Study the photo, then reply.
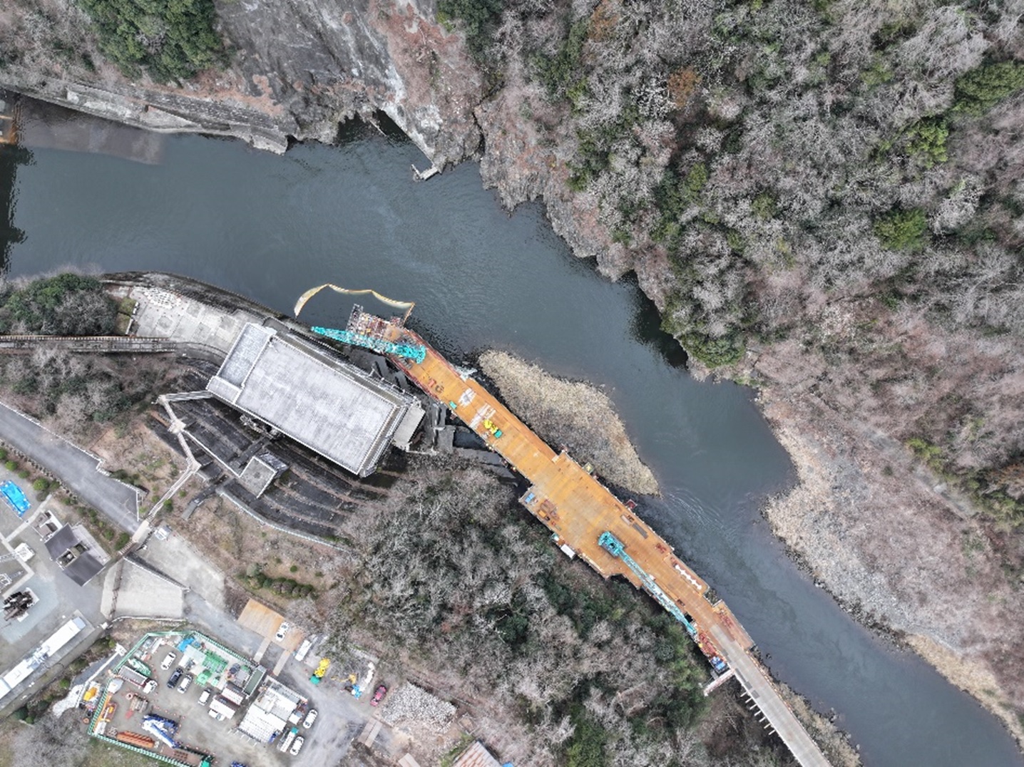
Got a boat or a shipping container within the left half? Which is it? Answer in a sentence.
You can see a shipping container within the left half.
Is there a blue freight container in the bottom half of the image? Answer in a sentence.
No, the scene shows no blue freight container in the bottom half of the image.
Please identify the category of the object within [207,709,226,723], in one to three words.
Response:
vehicle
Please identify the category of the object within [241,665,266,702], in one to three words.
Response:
shipping container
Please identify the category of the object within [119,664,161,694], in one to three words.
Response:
truck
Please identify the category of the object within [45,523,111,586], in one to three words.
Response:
house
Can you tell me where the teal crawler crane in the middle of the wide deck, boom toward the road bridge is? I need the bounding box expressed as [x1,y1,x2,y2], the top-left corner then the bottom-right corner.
[597,529,697,636]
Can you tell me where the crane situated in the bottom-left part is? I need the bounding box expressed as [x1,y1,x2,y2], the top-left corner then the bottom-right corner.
[138,707,178,751]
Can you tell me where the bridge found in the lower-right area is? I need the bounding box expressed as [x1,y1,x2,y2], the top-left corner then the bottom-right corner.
[710,623,831,767]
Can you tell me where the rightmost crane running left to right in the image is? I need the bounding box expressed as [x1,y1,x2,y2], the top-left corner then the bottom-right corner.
[312,327,429,364]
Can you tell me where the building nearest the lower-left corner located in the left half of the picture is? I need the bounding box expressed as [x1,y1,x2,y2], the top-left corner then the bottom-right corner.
[0,613,96,708]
